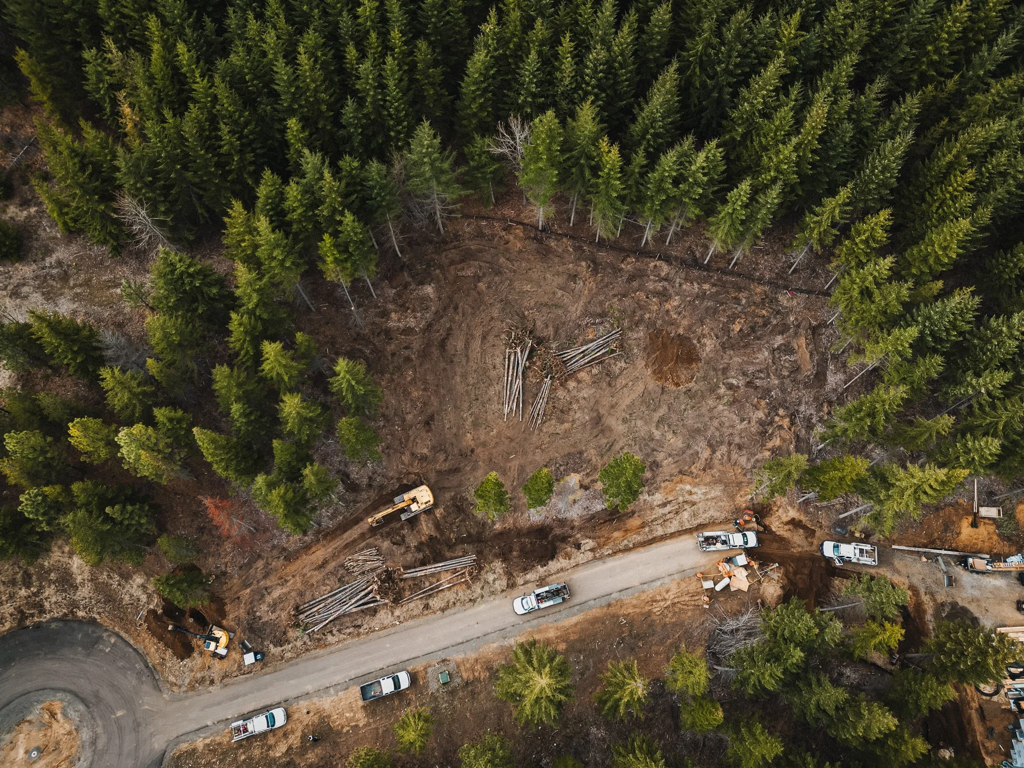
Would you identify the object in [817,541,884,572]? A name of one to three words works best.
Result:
truck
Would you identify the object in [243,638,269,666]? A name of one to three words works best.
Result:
work vehicle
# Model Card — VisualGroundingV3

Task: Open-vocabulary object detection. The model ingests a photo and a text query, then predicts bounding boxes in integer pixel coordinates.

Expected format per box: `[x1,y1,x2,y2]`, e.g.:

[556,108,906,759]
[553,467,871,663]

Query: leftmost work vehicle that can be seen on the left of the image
[177,619,242,658]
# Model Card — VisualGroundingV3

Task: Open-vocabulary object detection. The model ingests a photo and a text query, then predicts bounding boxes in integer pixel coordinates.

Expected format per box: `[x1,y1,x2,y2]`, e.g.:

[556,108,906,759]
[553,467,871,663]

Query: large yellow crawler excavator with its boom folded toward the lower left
[365,485,433,526]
